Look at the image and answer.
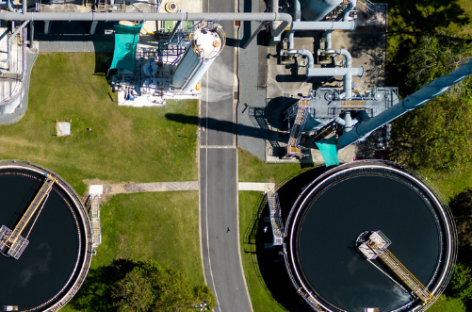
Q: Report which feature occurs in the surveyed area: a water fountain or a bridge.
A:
bridge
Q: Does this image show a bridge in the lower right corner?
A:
Yes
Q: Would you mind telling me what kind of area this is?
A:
industrial area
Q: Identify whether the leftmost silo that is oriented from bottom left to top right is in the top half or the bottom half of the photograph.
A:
top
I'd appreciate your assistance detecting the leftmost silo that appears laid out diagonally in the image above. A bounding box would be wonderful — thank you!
[167,21,225,94]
